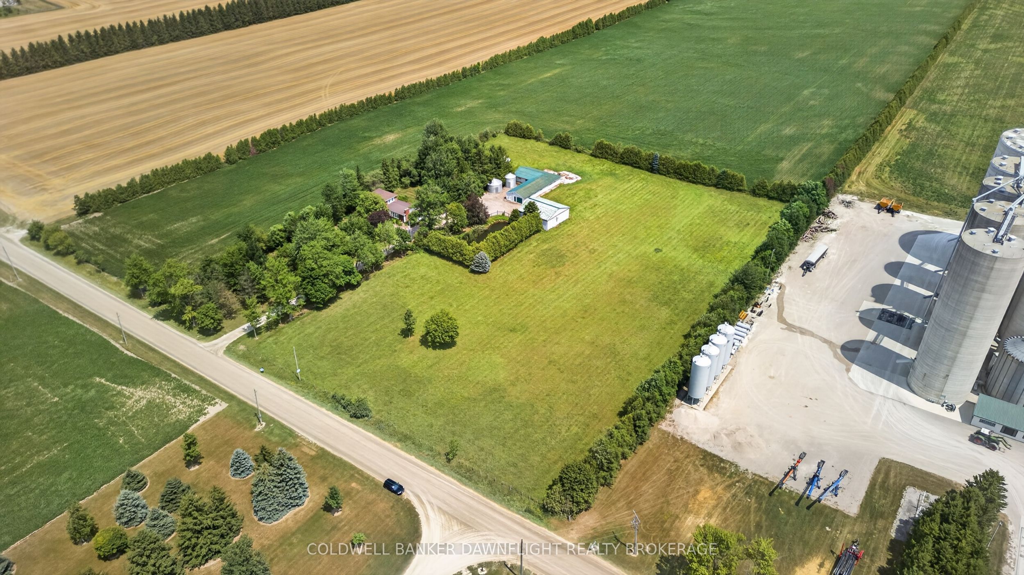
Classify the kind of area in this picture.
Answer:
industrial area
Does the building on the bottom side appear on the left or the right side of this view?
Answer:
right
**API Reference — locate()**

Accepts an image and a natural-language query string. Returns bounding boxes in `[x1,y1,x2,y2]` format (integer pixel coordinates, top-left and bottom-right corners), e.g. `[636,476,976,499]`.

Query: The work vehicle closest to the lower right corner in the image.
[966,427,1010,454]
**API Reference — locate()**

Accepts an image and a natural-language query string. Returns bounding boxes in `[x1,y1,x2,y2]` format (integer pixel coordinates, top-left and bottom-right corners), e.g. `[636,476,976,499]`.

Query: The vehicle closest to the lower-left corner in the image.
[384,472,409,492]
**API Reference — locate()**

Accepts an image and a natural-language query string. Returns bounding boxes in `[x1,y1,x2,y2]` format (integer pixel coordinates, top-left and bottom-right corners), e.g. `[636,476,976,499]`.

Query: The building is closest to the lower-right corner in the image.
[970,393,1024,444]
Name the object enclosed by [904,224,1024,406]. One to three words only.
silo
